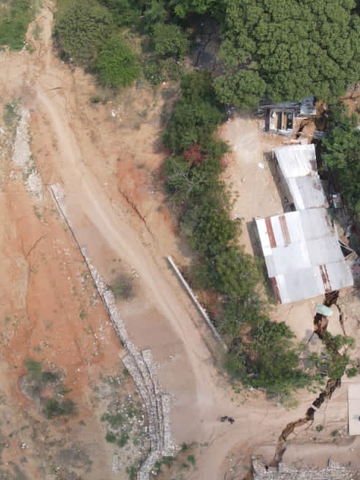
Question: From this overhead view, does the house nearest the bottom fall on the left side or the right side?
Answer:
right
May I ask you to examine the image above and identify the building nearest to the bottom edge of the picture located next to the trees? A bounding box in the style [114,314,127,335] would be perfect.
[255,206,354,305]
